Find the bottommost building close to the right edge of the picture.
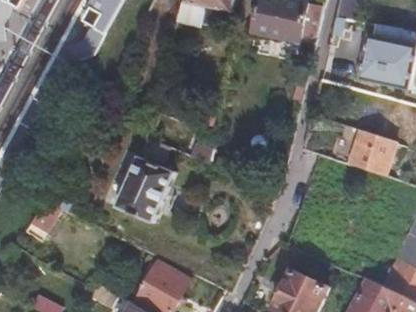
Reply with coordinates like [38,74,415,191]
[347,278,416,312]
